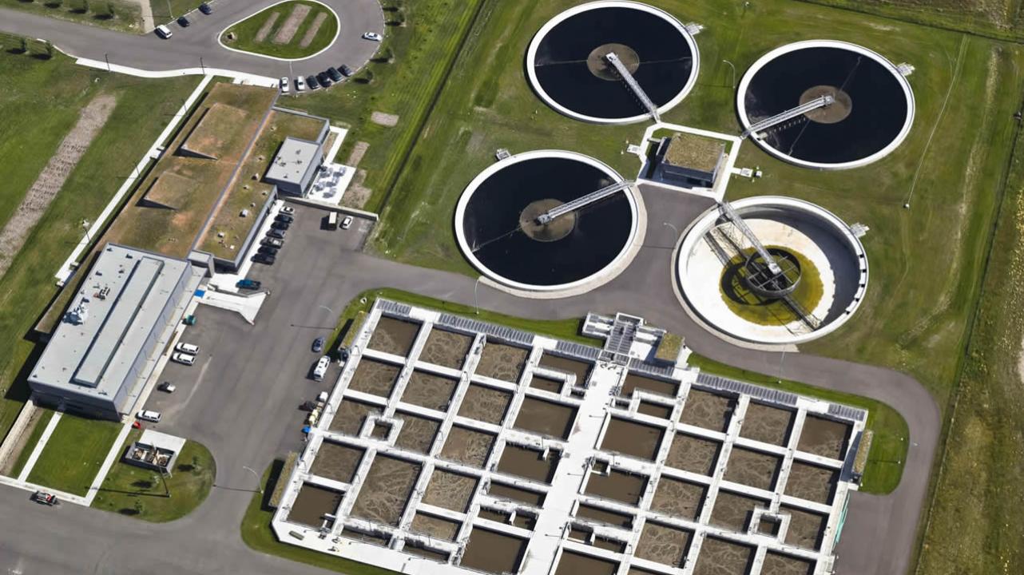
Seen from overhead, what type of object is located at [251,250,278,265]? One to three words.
vehicle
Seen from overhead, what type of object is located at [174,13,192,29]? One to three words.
car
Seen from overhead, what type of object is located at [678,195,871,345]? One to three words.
storage tank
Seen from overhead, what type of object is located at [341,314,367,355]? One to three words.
shed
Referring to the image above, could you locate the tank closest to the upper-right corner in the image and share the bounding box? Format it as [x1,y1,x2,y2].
[736,40,915,170]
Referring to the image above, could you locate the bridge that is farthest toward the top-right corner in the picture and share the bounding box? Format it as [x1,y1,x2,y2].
[741,97,822,137]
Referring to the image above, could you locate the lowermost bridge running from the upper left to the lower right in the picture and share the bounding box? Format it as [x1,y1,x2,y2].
[716,198,773,263]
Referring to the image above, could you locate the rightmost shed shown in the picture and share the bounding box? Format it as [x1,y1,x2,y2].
[853,434,872,480]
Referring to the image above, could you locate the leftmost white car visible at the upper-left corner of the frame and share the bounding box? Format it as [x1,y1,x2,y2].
[154,23,174,38]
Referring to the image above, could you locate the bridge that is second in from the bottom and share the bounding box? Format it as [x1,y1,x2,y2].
[551,176,639,219]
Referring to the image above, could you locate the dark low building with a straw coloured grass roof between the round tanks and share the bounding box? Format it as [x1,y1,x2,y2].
[664,133,725,187]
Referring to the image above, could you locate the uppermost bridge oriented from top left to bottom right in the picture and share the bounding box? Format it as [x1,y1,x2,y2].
[611,58,661,124]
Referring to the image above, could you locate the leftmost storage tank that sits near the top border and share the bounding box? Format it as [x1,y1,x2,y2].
[527,2,704,125]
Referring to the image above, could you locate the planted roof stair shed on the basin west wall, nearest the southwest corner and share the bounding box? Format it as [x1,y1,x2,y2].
[269,452,302,511]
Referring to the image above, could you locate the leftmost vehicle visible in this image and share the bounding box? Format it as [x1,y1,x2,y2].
[37,490,60,506]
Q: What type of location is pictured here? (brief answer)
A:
industrial area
